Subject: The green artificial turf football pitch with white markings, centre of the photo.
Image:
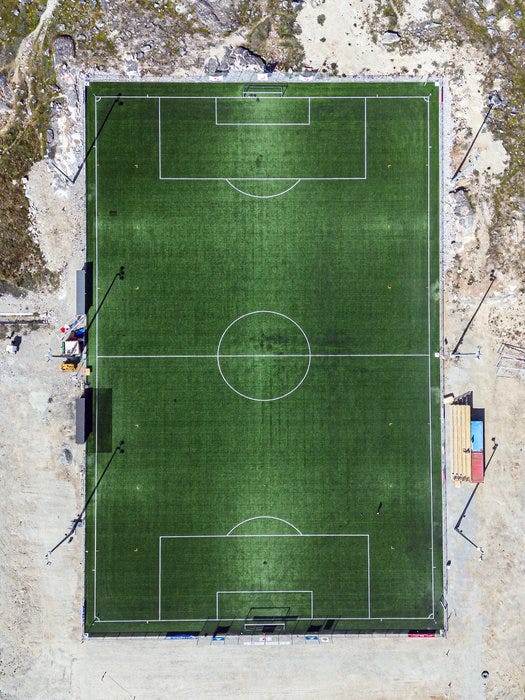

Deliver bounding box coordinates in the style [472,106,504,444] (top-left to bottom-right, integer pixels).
[84,82,444,636]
